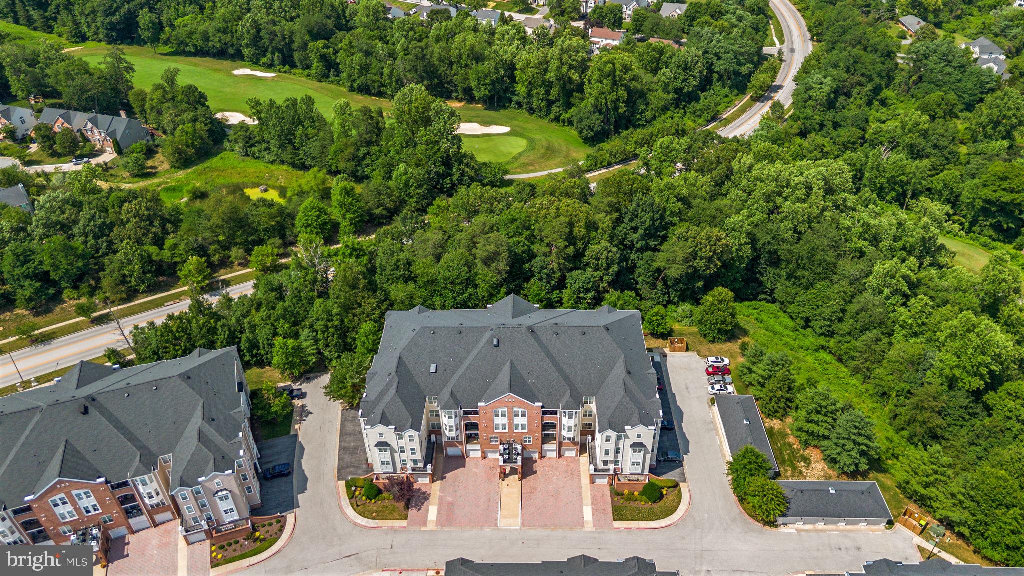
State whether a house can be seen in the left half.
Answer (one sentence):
Yes, in the left half there is a house.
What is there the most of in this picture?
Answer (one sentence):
Most of the picture is covered by trees.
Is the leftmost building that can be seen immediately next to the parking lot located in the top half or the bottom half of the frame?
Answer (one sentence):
It is in the bottom half that the leftmost building that can be seen immediately next to the parking lot appears.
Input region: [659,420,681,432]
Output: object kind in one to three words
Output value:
vehicle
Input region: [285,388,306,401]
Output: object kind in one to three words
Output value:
vehicle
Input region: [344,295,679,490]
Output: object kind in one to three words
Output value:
building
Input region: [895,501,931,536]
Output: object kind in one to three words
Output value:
building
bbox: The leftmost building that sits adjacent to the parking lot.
[0,346,285,576]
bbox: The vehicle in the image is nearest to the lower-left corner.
[261,465,290,481]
